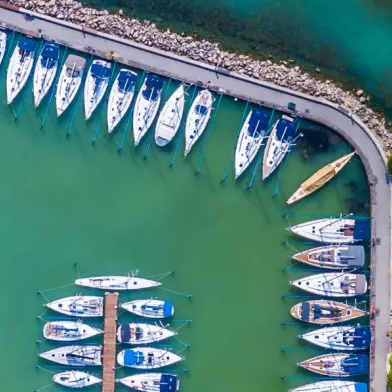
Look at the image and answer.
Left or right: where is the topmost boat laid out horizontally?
right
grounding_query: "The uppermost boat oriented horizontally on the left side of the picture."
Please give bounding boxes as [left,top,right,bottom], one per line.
[42,268,190,296]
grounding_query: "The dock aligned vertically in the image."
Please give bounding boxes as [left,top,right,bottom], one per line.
[102,292,118,392]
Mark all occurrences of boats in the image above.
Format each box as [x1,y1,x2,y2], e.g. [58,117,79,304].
[285,214,376,245]
[39,292,103,319]
[117,296,189,321]
[183,86,215,157]
[283,298,372,325]
[6,32,37,117]
[42,268,190,296]
[37,367,103,391]
[262,113,299,195]
[154,80,191,150]
[39,318,105,342]
[223,105,271,181]
[82,55,113,121]
[282,351,373,379]
[289,270,371,299]
[32,38,61,108]
[114,346,187,370]
[36,342,103,368]
[55,50,87,117]
[133,69,167,146]
[115,370,187,392]
[107,63,140,133]
[274,151,357,204]
[287,378,373,392]
[283,241,371,271]
[282,324,375,352]
[116,322,189,346]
